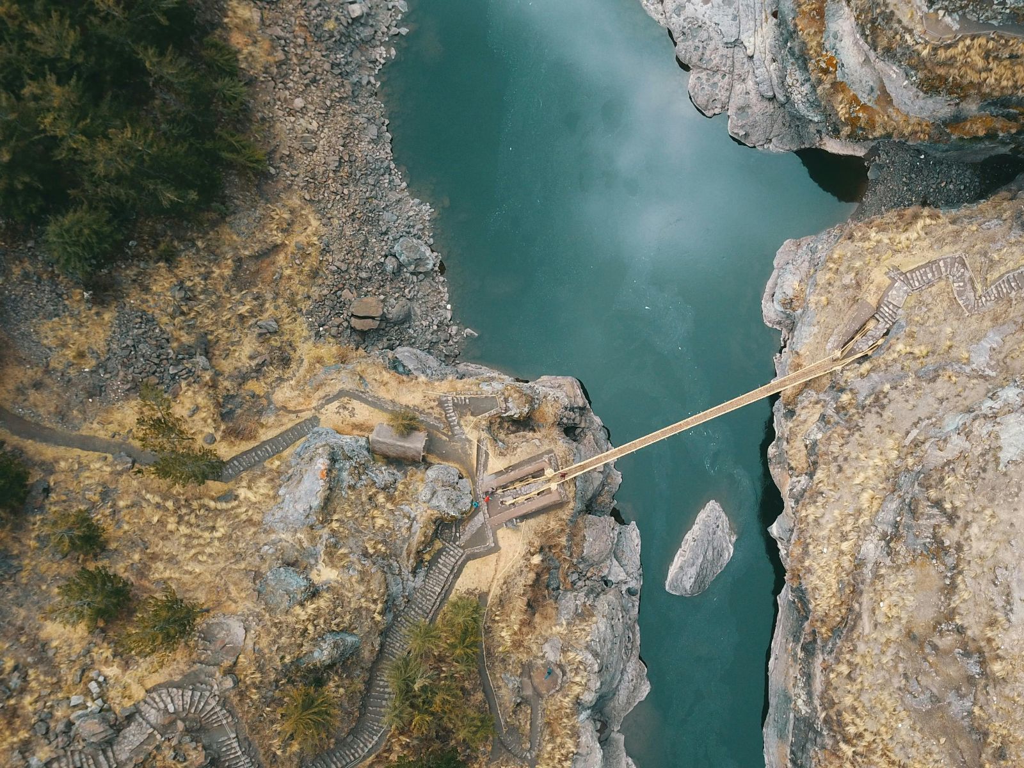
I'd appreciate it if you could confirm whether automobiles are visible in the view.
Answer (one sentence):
No, there is no automobile in the image.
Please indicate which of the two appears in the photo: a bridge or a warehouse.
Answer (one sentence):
This aerial view contains a bridge.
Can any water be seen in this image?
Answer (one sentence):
Yes, water shows up in the scene.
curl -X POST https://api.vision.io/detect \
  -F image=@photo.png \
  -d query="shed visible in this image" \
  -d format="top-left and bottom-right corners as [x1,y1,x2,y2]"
[370,423,427,463]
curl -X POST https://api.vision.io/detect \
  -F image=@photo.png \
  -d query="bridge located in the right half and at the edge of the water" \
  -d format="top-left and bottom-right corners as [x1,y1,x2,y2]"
[496,317,876,505]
